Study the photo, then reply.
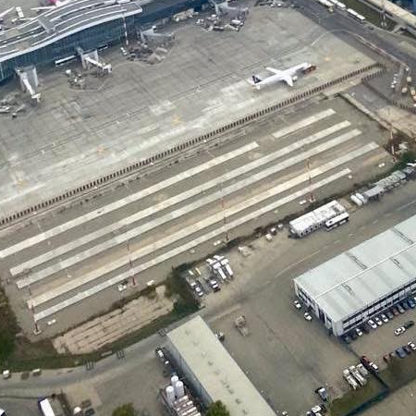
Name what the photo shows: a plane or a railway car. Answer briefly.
plane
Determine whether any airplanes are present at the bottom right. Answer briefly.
No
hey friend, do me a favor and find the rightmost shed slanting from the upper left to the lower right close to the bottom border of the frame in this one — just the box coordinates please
[166,314,276,416]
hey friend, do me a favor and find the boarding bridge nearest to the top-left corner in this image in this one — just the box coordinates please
[21,68,43,105]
